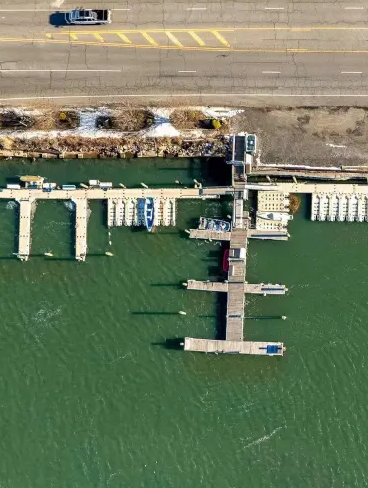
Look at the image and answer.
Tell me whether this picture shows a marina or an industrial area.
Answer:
marina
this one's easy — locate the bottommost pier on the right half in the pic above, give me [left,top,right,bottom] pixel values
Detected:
[184,211,289,356]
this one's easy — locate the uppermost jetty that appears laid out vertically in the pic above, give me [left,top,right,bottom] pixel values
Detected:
[226,136,249,191]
